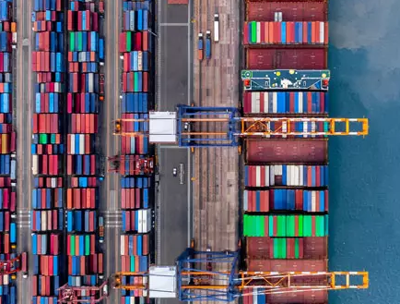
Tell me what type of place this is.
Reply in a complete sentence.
This looks like a port.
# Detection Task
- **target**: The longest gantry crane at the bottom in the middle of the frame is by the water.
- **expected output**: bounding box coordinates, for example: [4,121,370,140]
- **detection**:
[115,242,369,301]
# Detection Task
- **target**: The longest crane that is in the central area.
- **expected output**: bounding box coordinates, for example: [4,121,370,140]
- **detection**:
[115,102,369,151]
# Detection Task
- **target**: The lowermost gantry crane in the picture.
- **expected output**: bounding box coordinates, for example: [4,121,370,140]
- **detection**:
[62,277,112,302]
